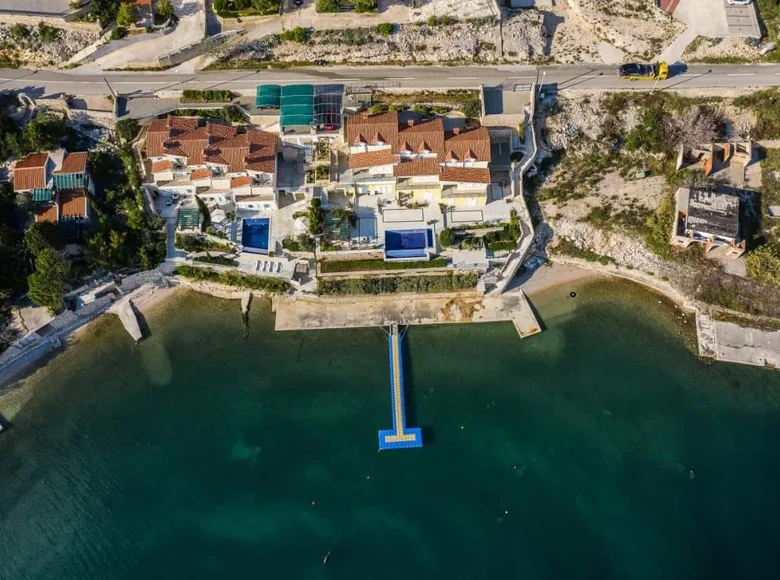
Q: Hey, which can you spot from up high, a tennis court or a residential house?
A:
residential house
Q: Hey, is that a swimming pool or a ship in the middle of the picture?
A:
swimming pool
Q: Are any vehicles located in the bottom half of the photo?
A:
No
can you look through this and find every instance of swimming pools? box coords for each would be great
[241,216,270,255]
[383,227,436,262]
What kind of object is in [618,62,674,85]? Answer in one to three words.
truck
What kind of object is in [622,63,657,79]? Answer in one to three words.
car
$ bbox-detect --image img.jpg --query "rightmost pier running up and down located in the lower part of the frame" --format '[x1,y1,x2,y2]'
[378,325,425,458]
